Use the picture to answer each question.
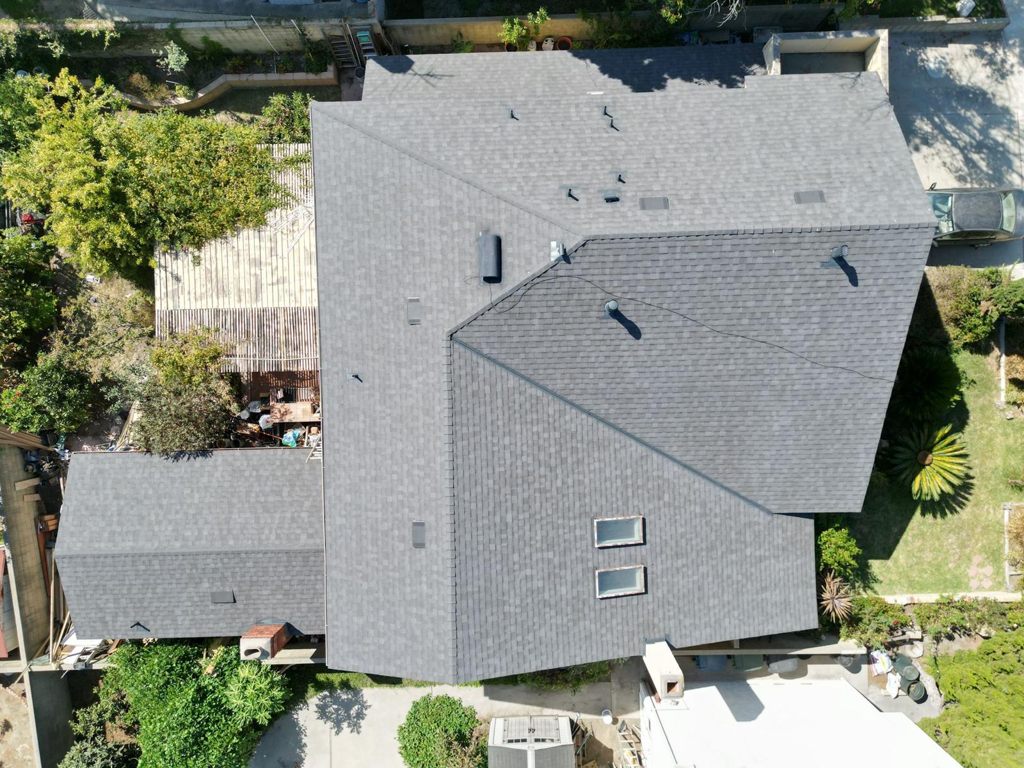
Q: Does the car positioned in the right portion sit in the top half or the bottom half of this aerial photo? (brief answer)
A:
top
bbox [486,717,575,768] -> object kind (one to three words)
shed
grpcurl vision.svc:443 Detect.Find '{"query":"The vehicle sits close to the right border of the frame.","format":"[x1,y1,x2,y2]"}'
[922,178,1024,255]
